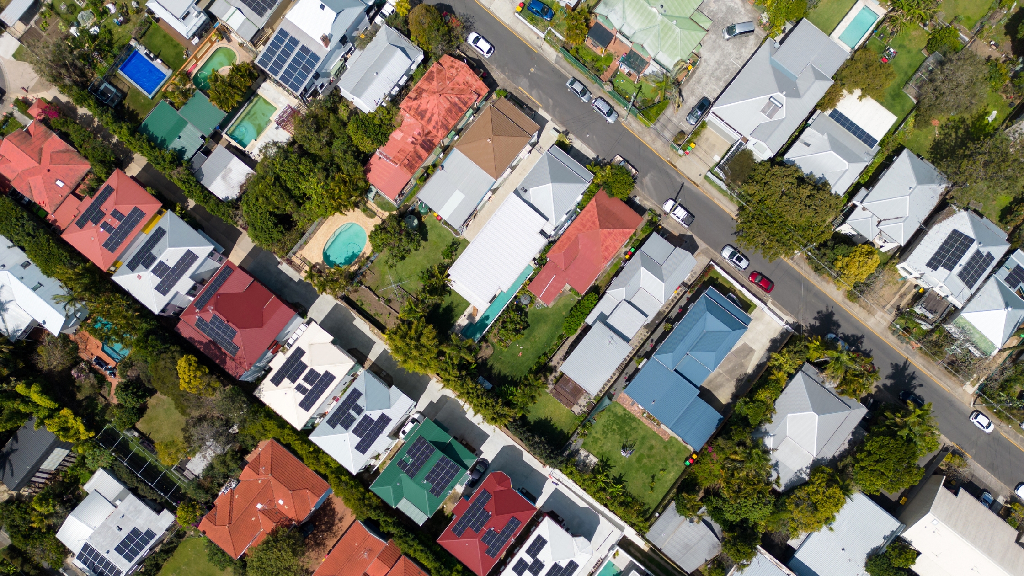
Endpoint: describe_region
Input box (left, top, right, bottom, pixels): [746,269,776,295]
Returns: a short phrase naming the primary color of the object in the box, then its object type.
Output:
red car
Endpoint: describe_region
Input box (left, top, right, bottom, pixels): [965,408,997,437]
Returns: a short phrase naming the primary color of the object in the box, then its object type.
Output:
white car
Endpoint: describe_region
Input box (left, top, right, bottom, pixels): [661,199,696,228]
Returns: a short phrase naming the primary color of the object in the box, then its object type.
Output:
white truck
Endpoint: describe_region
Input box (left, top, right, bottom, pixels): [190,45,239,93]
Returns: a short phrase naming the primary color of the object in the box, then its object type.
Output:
green swimming pool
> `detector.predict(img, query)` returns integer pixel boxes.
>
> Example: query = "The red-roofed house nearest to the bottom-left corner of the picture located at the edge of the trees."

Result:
[197,438,333,560]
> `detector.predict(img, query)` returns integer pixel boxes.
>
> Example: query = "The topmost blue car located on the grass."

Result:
[527,0,556,22]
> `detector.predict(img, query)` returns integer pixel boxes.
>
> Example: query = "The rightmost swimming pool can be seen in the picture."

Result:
[837,3,881,50]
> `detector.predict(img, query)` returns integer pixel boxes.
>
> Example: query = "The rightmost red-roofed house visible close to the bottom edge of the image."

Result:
[435,470,538,576]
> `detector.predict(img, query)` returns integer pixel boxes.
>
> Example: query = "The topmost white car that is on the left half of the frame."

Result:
[372,1,396,27]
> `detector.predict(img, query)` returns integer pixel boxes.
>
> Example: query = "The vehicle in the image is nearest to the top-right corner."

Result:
[722,20,755,41]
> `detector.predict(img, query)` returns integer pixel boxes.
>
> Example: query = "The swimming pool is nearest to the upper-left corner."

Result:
[118,40,175,100]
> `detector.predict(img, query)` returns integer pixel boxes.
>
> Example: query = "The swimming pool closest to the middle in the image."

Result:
[461,262,536,342]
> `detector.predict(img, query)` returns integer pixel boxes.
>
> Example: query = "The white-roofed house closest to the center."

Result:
[448,191,549,313]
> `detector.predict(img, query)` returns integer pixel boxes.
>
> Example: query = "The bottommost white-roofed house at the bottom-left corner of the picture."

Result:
[55,467,189,576]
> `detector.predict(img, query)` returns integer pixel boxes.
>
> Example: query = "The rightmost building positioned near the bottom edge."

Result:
[893,484,1024,576]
